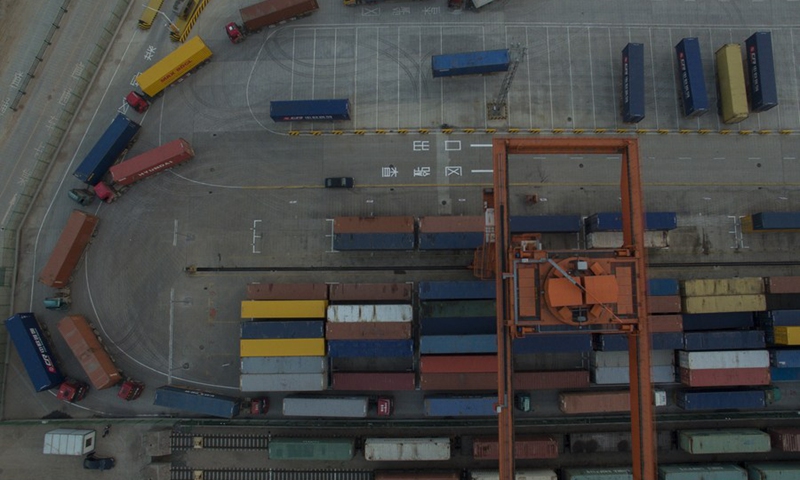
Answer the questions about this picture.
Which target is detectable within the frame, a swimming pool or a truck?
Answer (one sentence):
Visible in the photo is a truck.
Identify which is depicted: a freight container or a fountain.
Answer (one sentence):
This aerial view contains a freight container.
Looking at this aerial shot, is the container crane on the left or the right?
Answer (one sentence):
The container crane is on the right side of the image.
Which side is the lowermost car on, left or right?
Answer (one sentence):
It is on the left.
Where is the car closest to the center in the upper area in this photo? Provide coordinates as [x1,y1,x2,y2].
[324,175,354,189]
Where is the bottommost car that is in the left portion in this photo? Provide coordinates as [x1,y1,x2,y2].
[83,451,116,472]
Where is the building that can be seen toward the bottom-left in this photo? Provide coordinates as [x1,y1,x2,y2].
[44,430,95,455]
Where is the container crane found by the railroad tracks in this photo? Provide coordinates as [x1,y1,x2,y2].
[467,138,664,480]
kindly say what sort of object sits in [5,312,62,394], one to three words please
shipping container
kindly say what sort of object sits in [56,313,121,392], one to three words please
shipping container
